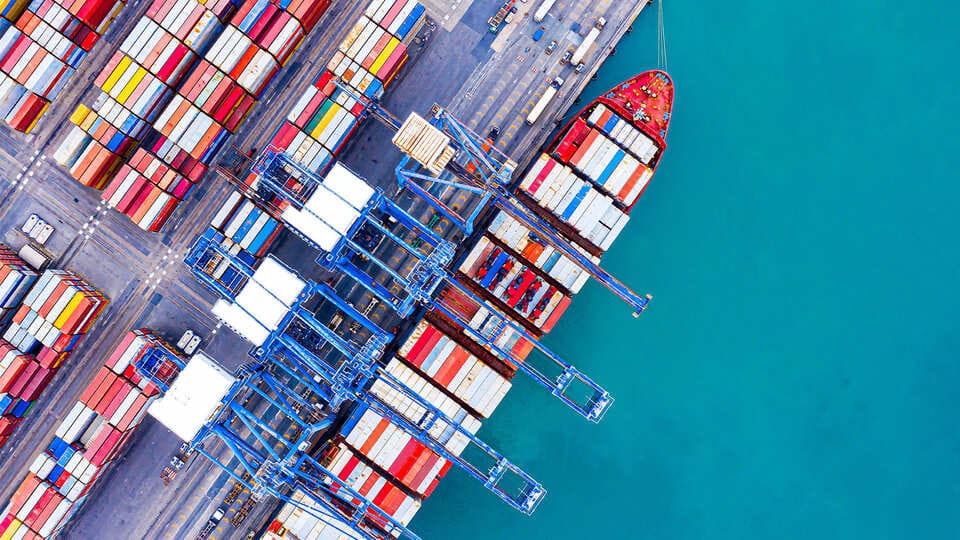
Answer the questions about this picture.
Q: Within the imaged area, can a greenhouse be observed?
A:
No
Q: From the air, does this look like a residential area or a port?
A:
port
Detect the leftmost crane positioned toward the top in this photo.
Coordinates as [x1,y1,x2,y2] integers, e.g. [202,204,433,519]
[213,138,300,212]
